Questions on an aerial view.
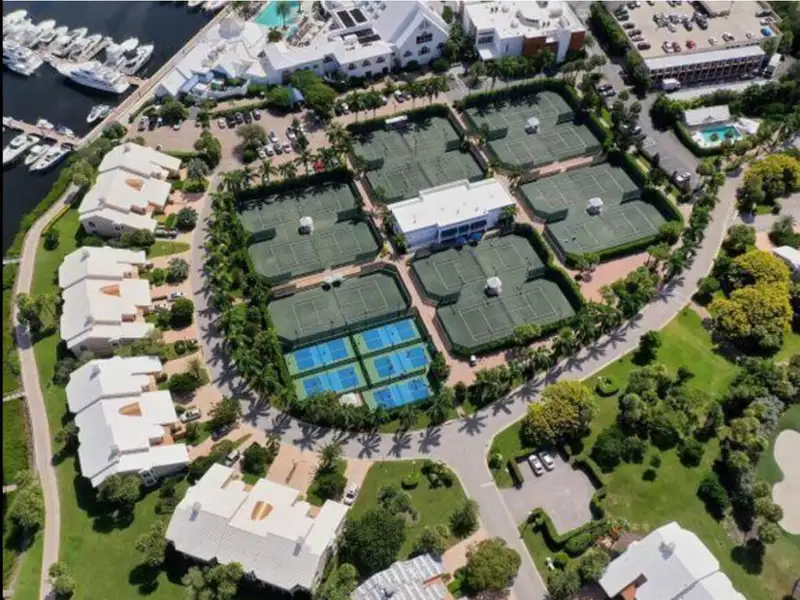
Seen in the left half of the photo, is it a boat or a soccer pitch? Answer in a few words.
boat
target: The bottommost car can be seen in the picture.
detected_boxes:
[343,484,359,505]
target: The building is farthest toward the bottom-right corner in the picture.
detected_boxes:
[598,521,748,600]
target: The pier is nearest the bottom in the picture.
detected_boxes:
[0,112,80,145]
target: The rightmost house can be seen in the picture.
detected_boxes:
[771,246,800,279]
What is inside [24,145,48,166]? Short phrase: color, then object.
white boat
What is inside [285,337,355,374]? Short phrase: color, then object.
blue sports court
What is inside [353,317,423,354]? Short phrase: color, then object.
blue sports court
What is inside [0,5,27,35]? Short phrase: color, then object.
white boat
